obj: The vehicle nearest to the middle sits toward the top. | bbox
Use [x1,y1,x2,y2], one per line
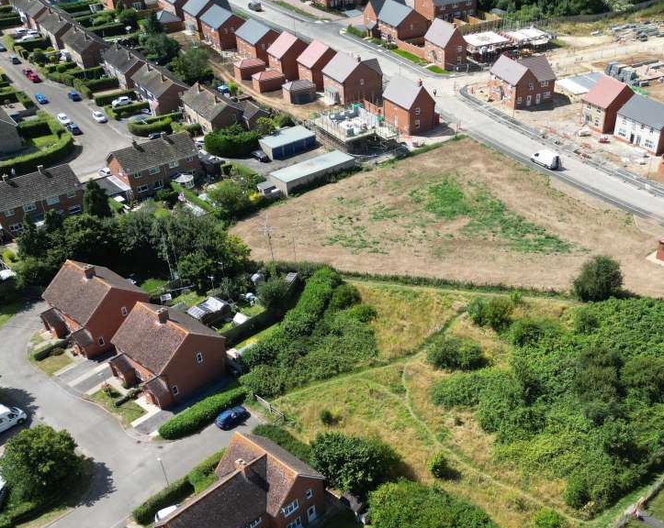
[250,146,270,161]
